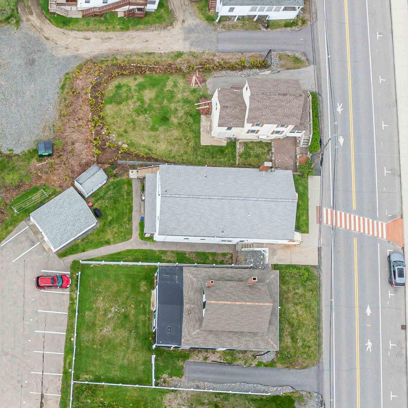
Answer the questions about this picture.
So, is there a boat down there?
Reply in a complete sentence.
No, the scene contains no boat.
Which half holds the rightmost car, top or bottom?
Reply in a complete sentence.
It is in the bottom half that the rightmost car appears.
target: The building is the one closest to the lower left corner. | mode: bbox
[22,187,97,261]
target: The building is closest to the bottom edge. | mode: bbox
[155,267,279,351]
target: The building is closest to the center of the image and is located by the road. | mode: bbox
[129,160,303,264]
